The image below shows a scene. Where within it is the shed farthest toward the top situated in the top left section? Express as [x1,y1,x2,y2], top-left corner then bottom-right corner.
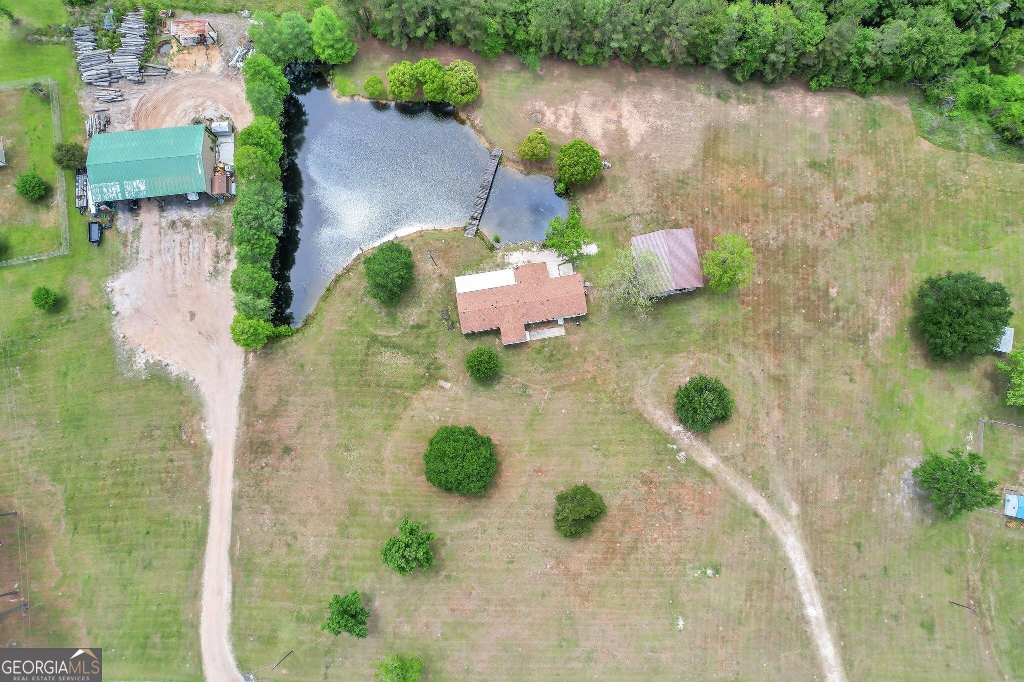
[171,18,214,45]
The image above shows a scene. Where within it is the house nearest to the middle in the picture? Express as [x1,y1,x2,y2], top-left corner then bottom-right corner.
[455,262,587,345]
